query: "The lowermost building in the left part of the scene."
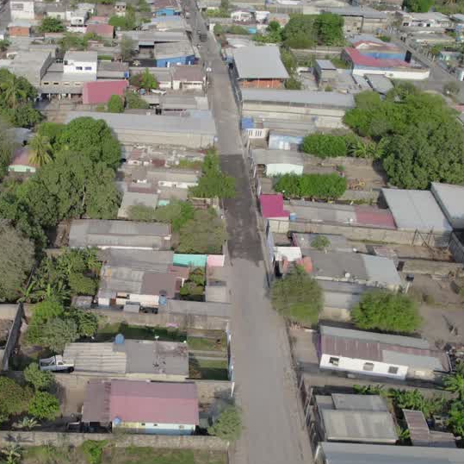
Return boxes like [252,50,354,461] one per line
[81,379,199,438]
